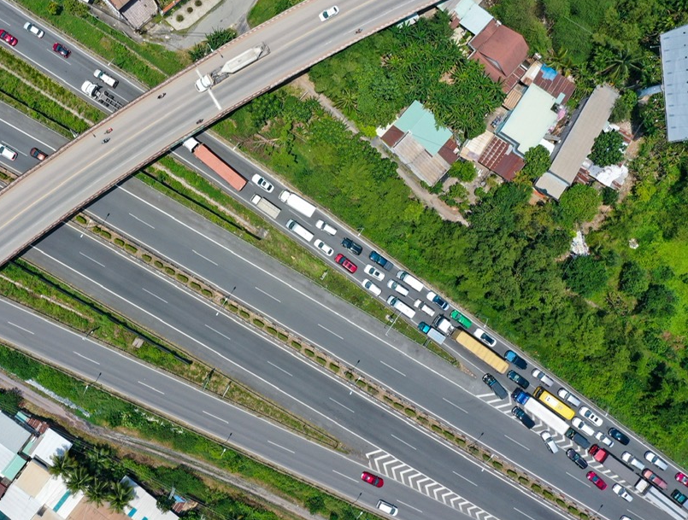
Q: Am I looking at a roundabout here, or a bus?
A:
bus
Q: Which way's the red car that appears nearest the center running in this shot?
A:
at an angle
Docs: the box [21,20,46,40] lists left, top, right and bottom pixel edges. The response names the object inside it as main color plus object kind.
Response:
white car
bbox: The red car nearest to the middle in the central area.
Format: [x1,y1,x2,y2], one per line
[333,253,358,273]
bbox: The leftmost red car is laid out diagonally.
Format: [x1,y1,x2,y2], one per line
[0,28,20,47]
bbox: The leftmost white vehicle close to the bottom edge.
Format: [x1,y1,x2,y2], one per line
[374,499,398,515]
